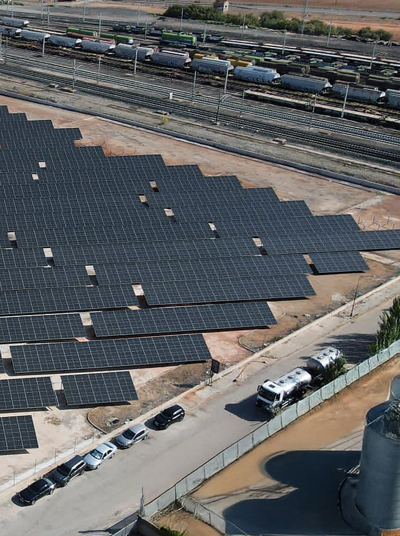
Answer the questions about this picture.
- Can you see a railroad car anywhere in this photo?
Yes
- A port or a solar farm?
solar farm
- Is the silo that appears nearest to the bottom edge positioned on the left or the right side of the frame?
right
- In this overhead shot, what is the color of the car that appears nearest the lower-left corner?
black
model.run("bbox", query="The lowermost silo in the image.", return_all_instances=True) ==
[328,394,400,536]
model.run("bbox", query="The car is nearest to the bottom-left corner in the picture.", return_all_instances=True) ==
[18,481,57,508]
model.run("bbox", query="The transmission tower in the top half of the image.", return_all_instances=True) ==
[297,0,310,34]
